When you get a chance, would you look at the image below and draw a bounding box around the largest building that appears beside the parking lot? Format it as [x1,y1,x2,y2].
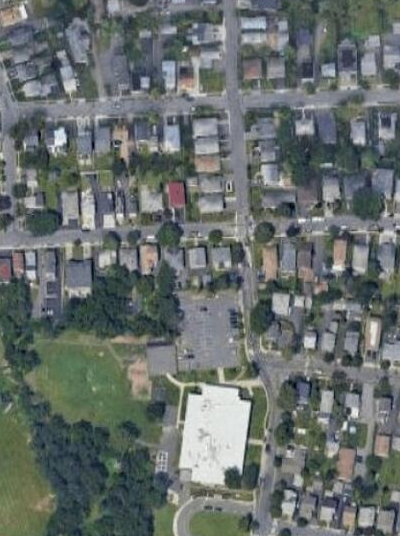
[179,385,252,486]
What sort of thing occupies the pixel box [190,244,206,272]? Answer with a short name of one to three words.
house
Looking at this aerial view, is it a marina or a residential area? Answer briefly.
residential area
